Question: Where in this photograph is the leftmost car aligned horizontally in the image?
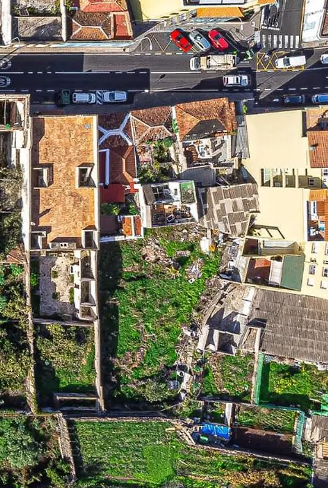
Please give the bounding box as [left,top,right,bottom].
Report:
[71,92,96,104]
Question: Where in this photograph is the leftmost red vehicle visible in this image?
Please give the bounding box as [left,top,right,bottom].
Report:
[168,29,191,54]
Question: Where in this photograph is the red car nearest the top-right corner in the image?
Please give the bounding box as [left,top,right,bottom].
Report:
[207,28,230,52]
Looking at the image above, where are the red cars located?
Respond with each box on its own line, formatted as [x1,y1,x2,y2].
[168,29,191,54]
[207,28,230,52]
